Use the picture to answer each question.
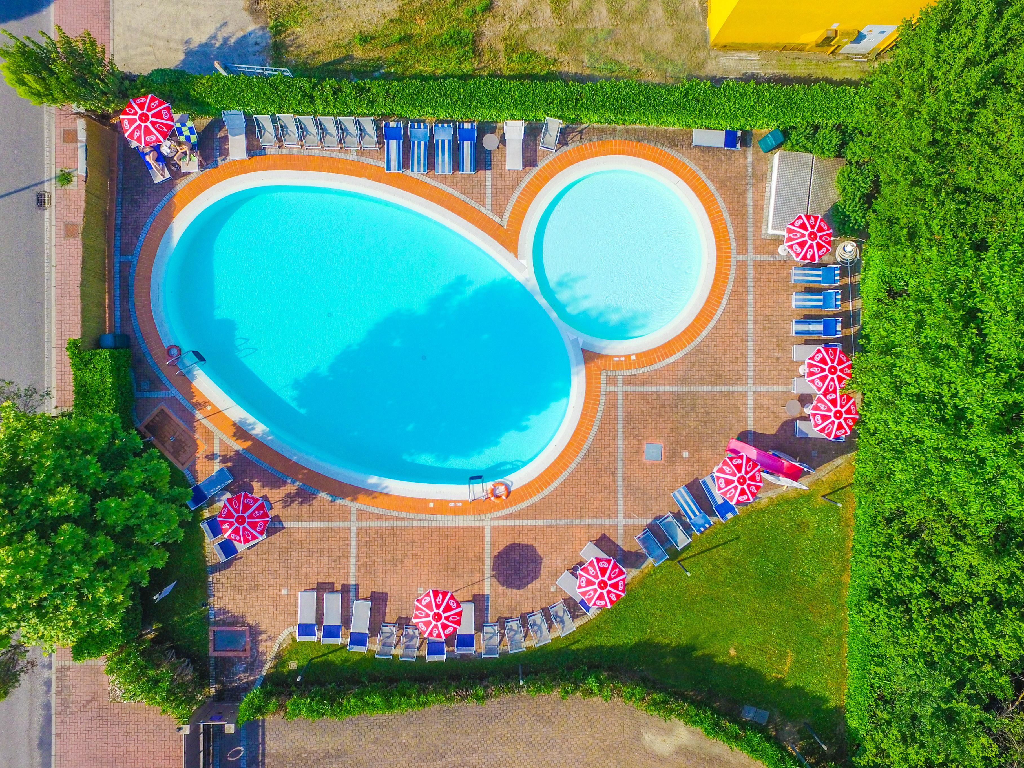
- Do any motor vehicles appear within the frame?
No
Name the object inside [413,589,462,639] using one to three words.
umbrella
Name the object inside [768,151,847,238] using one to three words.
building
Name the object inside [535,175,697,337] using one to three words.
swimming pool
